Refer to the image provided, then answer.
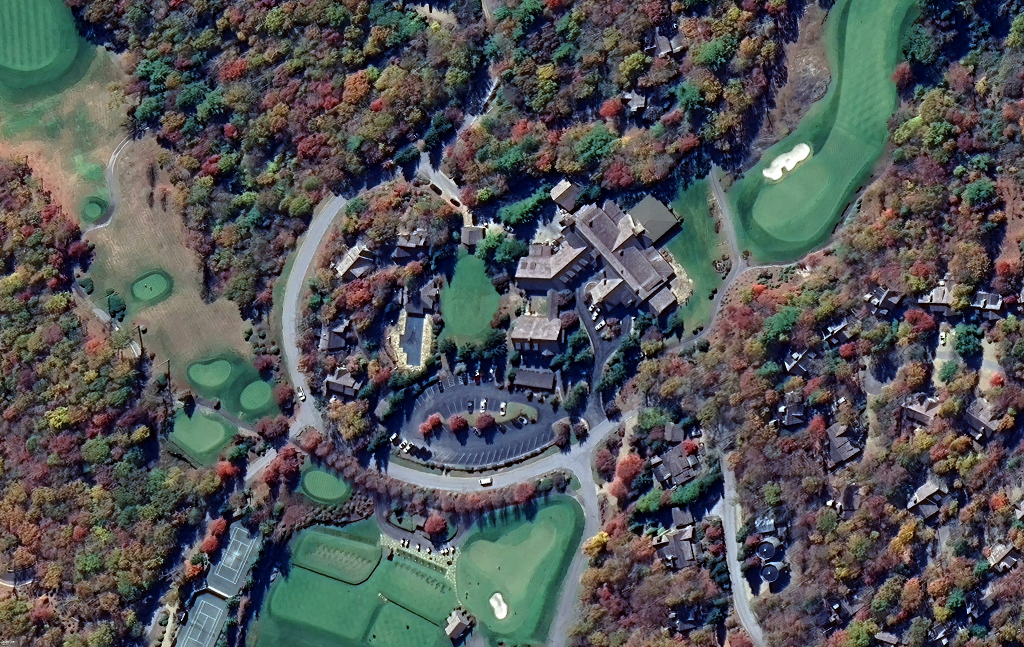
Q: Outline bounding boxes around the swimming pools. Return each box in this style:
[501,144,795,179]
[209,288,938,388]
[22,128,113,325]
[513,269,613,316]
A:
[390,309,433,371]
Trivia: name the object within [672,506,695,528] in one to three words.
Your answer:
building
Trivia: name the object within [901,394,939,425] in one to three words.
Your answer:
house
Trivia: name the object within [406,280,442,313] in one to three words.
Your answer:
building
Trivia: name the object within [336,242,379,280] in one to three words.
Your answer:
house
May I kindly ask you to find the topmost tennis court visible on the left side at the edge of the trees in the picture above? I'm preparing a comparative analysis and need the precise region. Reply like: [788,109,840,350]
[207,520,259,597]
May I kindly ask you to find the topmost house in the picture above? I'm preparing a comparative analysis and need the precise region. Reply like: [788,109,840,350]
[647,29,688,55]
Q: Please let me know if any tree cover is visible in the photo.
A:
Yes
